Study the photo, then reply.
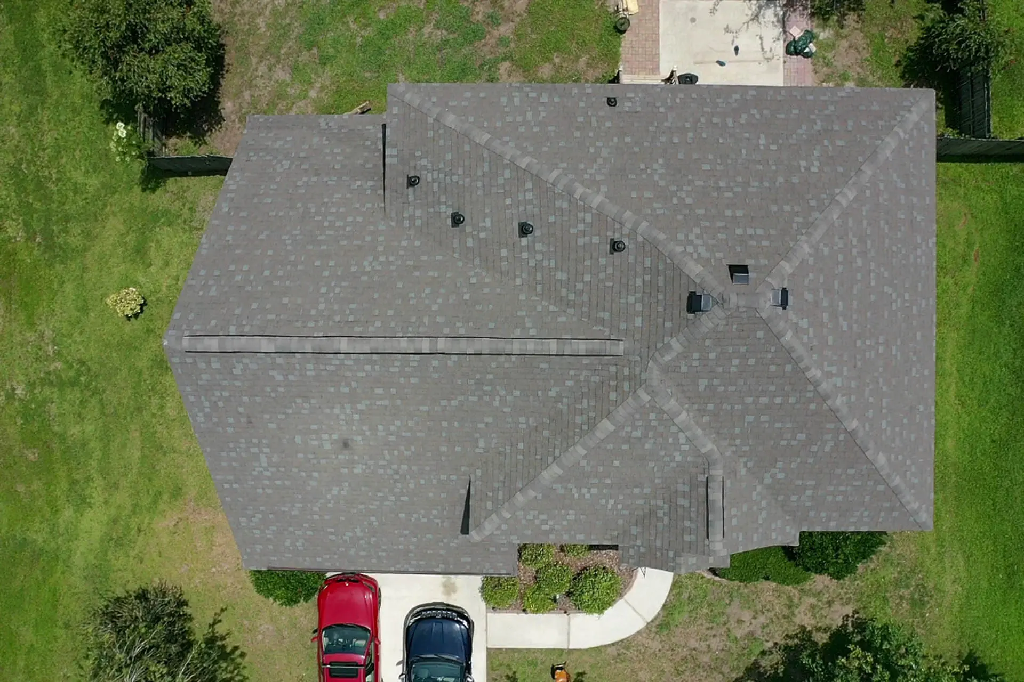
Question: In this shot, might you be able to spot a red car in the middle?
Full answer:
No, there is no red car in the middle.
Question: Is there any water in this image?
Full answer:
No, there's no water in this view.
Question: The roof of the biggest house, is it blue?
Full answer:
No, the roof of the biggest house is actually gray.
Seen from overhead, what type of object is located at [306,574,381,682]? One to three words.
car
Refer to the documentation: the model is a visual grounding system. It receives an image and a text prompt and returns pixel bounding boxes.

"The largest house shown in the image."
[165,82,937,577]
